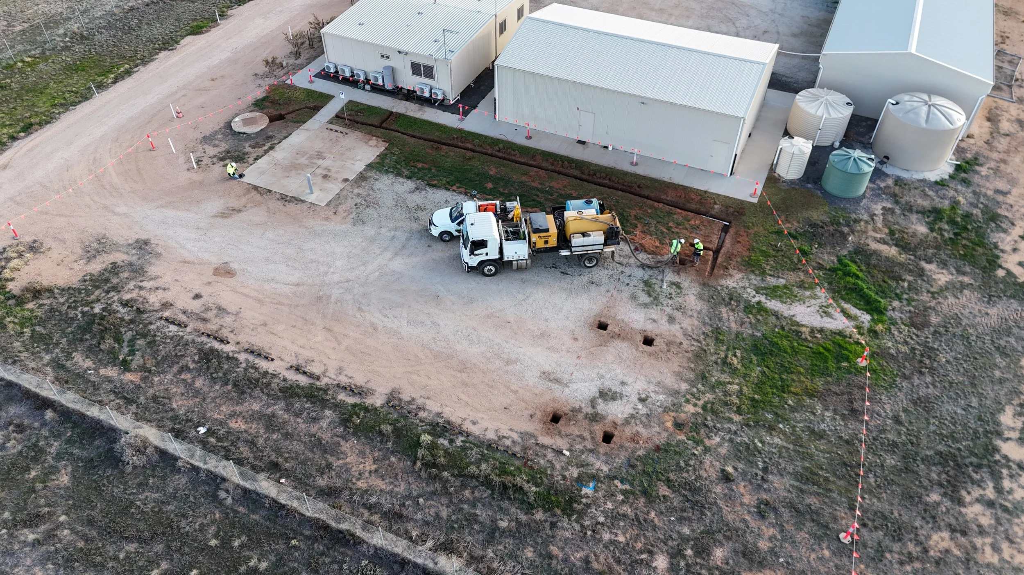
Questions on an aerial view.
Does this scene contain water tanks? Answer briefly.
Yes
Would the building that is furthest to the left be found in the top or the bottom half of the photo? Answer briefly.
top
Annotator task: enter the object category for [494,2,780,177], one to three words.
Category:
shed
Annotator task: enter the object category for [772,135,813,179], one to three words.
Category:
water tank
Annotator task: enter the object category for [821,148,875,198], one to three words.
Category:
water tank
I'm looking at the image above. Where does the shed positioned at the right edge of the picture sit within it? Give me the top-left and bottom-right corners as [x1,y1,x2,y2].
[812,0,997,137]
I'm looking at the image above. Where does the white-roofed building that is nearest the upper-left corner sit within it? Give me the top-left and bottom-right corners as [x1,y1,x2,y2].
[319,0,533,103]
